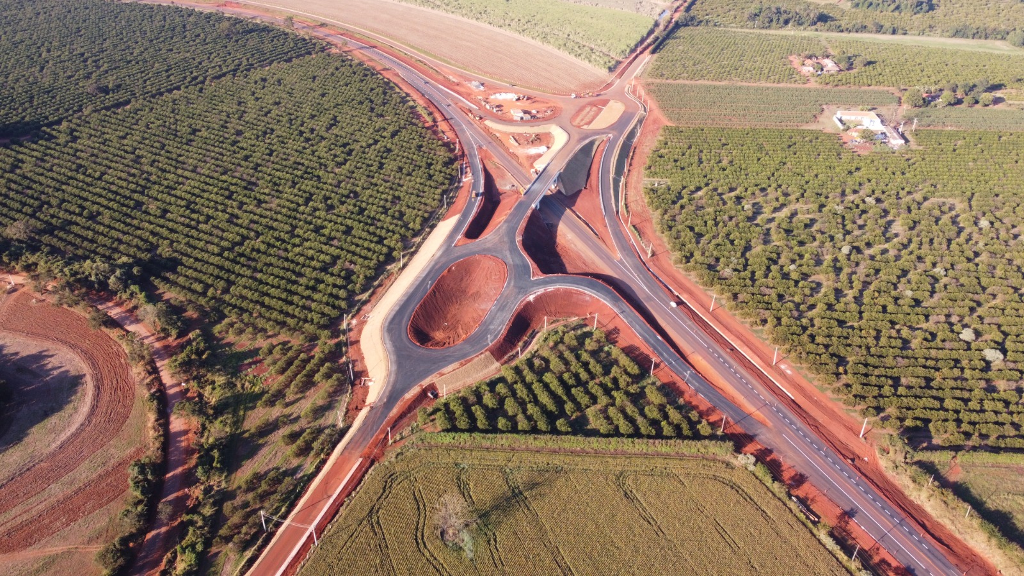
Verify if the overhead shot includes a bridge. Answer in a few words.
Yes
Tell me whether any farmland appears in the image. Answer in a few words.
Yes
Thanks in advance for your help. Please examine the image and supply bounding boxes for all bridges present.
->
[523,157,560,207]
